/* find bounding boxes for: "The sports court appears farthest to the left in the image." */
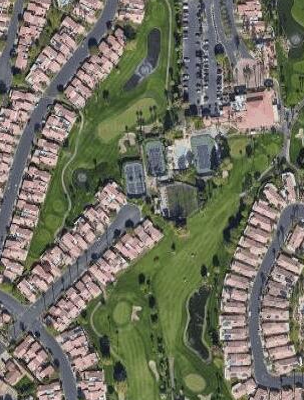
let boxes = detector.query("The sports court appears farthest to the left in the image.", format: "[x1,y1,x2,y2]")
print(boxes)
[123,162,145,195]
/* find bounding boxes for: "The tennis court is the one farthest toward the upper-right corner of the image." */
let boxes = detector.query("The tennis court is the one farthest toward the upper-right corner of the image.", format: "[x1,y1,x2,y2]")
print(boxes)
[191,135,213,173]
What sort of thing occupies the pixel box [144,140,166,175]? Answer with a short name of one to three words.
tennis court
